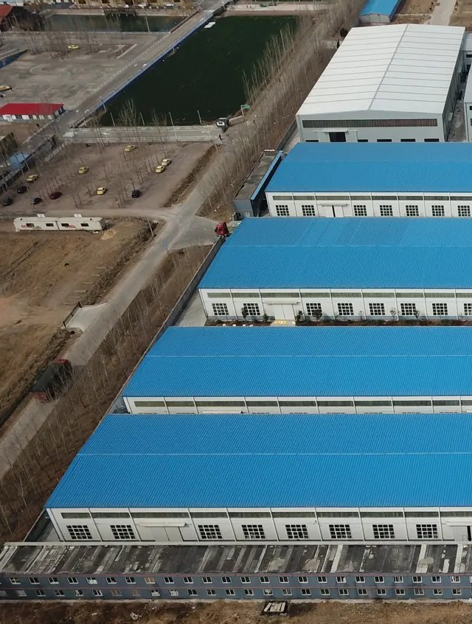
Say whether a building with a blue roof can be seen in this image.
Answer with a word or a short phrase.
Yes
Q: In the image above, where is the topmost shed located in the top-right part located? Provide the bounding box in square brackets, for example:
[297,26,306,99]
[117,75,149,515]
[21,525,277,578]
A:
[357,0,404,22]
